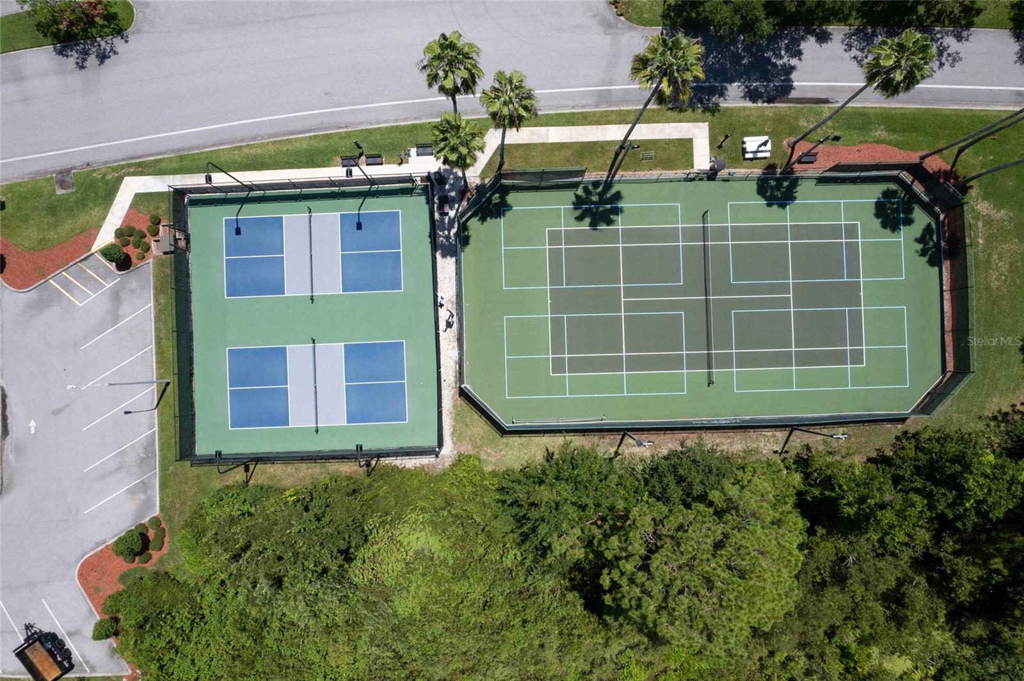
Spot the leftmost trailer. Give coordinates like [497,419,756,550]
[12,619,76,681]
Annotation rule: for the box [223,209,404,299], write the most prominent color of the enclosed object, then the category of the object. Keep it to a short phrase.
blue sports court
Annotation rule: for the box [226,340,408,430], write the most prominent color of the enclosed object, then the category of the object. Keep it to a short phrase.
blue sports court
